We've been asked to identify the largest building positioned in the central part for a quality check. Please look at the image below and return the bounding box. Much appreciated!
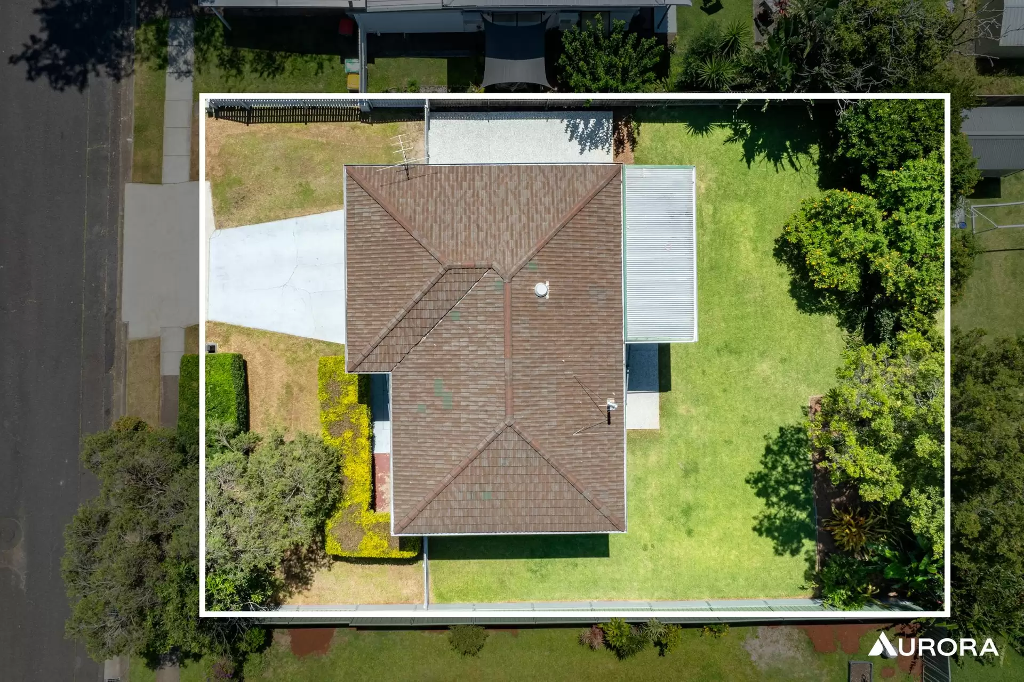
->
[342,160,628,537]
